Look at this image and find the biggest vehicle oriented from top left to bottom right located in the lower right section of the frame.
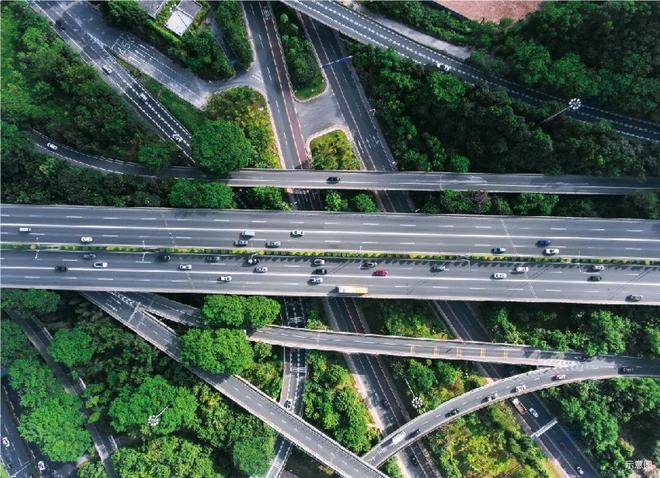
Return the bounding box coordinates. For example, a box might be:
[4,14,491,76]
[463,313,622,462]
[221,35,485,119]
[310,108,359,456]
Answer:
[511,396,528,416]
